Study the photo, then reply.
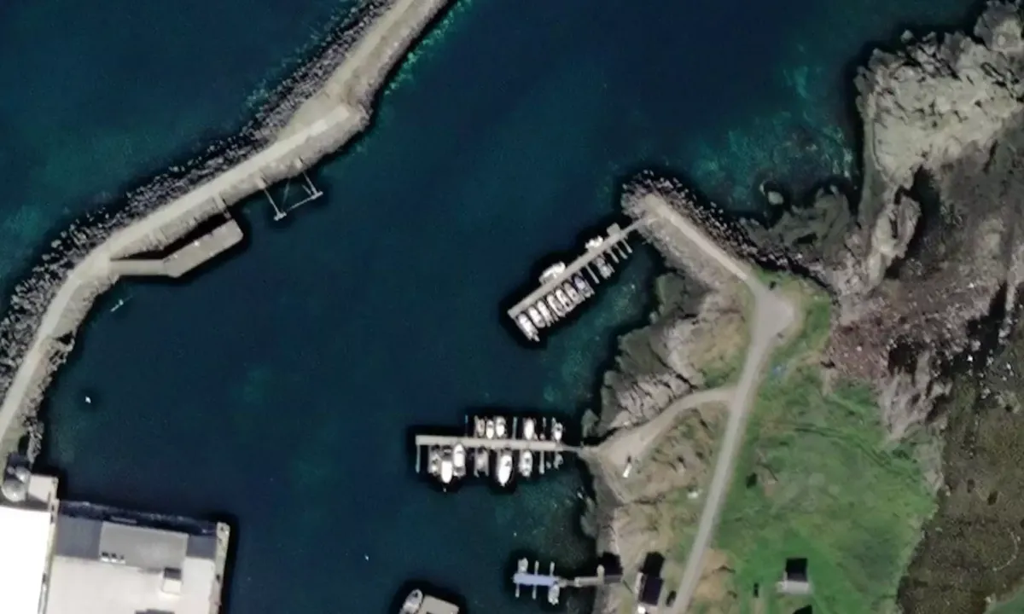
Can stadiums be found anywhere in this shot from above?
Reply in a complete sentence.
No, the frame has no stadium in it.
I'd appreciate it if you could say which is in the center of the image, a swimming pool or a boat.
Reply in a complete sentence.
What appears in the center of the image is a boat.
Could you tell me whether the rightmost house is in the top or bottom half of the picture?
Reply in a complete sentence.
It is in the bottom half that the rightmost house appears.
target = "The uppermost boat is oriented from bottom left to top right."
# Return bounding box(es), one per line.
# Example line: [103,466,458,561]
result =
[585,237,601,250]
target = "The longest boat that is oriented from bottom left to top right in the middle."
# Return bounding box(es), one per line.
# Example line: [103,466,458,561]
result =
[539,264,565,284]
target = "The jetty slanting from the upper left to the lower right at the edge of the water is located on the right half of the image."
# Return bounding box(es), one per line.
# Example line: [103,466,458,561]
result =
[622,171,793,299]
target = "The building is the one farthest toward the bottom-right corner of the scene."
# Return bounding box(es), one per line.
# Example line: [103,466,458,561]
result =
[780,573,809,595]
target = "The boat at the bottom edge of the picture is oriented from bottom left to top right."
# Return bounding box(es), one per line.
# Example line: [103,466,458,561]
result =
[398,587,421,614]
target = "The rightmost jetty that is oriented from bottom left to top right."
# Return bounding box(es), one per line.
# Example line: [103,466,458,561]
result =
[508,212,656,340]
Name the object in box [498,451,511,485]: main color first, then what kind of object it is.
white boat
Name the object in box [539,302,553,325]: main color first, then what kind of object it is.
white boat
